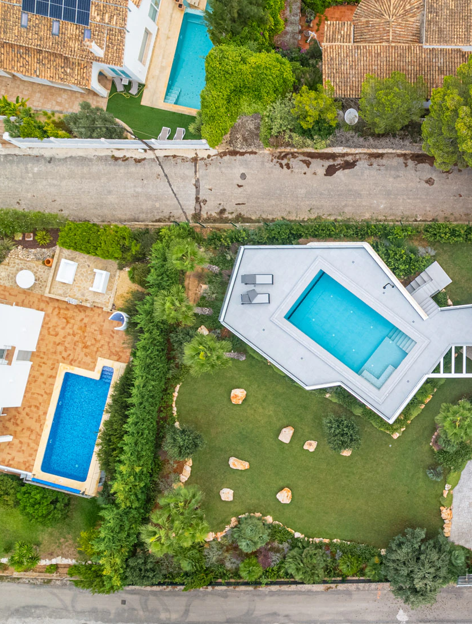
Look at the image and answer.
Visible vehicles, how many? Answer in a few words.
zero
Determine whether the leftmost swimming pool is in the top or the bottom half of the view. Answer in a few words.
bottom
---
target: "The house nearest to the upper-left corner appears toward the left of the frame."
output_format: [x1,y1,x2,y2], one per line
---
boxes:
[0,0,163,97]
